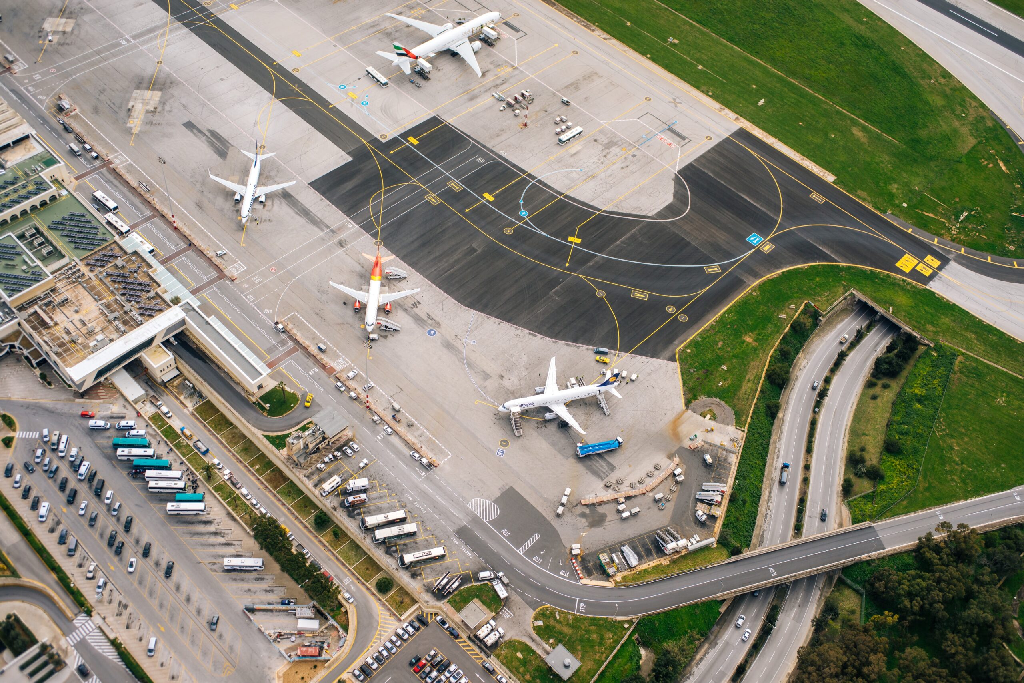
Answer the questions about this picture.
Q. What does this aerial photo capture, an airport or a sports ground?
airport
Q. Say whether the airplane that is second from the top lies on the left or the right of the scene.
left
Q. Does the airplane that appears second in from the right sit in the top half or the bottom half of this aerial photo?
top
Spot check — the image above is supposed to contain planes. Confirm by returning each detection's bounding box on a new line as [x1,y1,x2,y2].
[377,11,502,78]
[208,139,297,222]
[329,243,421,333]
[497,355,621,433]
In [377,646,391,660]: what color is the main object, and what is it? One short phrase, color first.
white car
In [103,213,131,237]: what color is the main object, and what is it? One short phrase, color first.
white bus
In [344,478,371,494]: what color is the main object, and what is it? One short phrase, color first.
white vehicle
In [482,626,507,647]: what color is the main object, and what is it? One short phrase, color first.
white truck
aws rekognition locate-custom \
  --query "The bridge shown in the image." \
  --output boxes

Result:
[639,516,1024,618]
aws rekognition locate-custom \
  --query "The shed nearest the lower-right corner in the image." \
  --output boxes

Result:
[544,644,581,683]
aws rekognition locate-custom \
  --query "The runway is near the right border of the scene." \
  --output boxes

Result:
[857,0,1024,141]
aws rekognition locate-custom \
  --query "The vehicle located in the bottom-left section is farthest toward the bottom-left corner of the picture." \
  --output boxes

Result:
[77,662,90,678]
